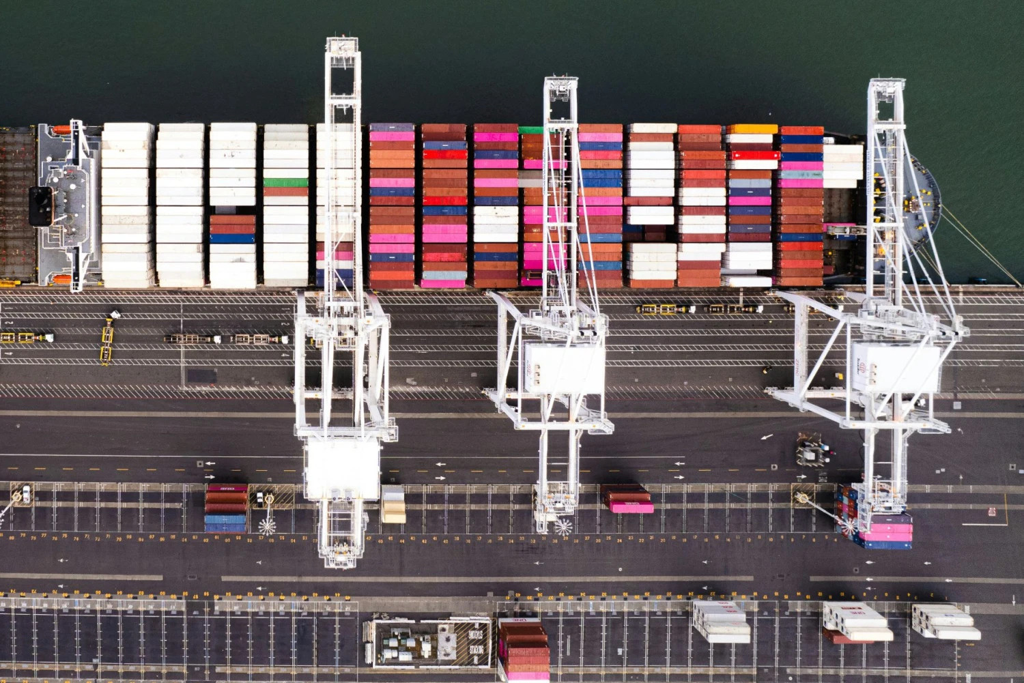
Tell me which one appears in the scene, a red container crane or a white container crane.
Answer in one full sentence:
I can see a white container crane in this picture.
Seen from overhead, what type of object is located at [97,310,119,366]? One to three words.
truck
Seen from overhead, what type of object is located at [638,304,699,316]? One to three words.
vehicle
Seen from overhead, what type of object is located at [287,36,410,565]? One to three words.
container crane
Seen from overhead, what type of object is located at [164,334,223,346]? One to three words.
vehicle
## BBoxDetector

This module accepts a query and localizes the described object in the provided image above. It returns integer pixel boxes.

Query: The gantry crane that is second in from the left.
[480,76,624,536]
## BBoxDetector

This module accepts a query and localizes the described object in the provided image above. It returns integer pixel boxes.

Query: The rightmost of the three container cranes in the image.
[766,76,970,536]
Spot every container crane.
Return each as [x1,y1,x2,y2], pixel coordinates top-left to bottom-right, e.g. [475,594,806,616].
[766,76,970,536]
[480,76,624,536]
[287,36,410,565]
